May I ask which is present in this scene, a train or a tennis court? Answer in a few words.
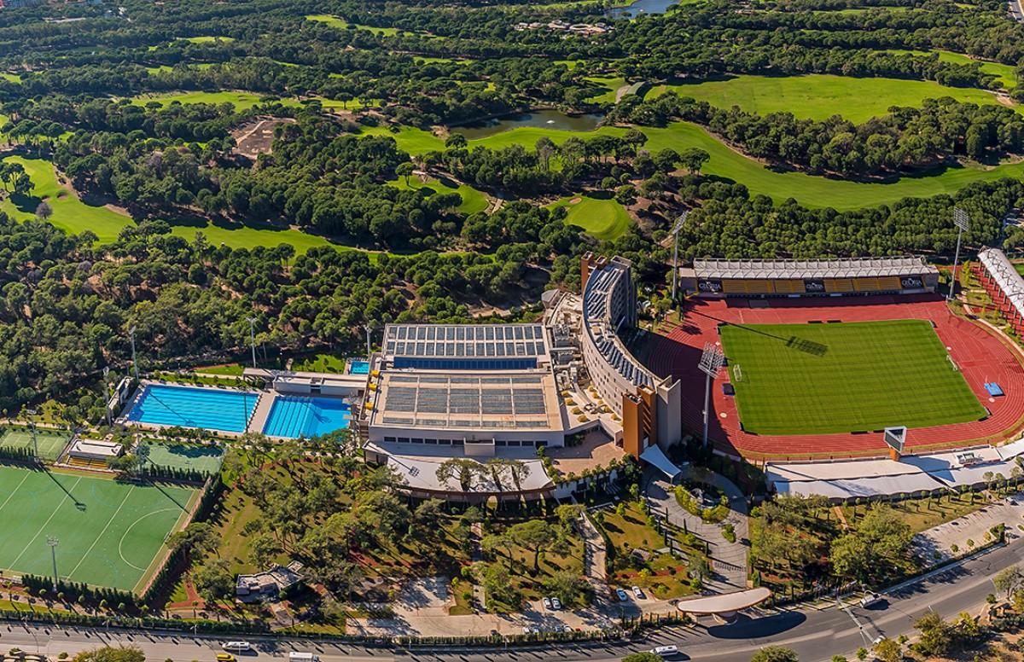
tennis court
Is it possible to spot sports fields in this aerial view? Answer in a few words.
Yes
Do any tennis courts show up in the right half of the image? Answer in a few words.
No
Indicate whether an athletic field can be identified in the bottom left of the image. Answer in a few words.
Yes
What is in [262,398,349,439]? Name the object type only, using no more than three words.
swimming pool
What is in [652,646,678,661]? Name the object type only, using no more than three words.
vehicle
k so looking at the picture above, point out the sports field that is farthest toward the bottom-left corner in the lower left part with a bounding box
[0,467,194,590]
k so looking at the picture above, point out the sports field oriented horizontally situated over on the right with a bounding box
[720,319,989,433]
